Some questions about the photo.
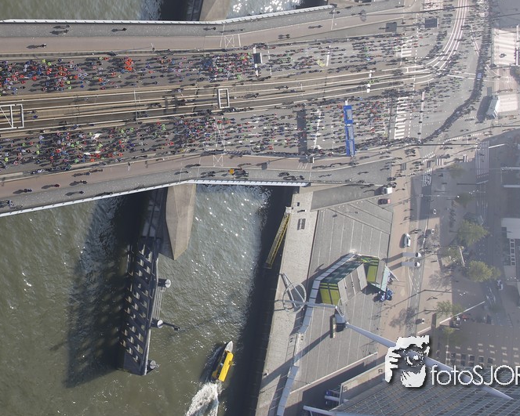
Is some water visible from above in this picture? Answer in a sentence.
Yes, the picture does contain water.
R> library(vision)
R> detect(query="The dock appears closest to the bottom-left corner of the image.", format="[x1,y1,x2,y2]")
[109,220,181,377]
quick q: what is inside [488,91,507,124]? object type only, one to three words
vehicle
